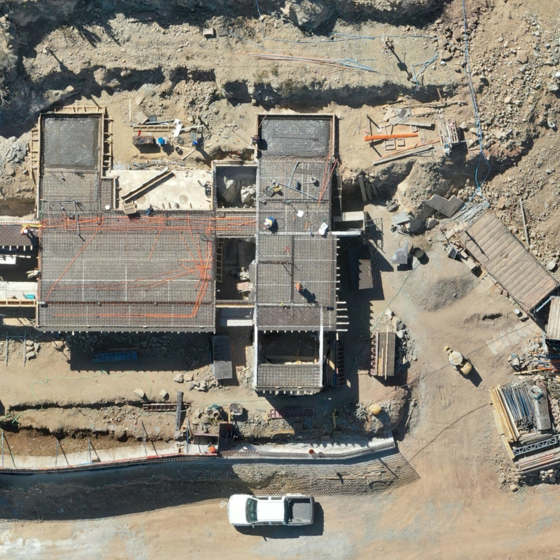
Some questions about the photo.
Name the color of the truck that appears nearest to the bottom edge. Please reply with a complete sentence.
The truck that appears nearest to the bottom edge looks white in the image.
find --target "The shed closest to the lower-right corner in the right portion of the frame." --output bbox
[538,297,560,340]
